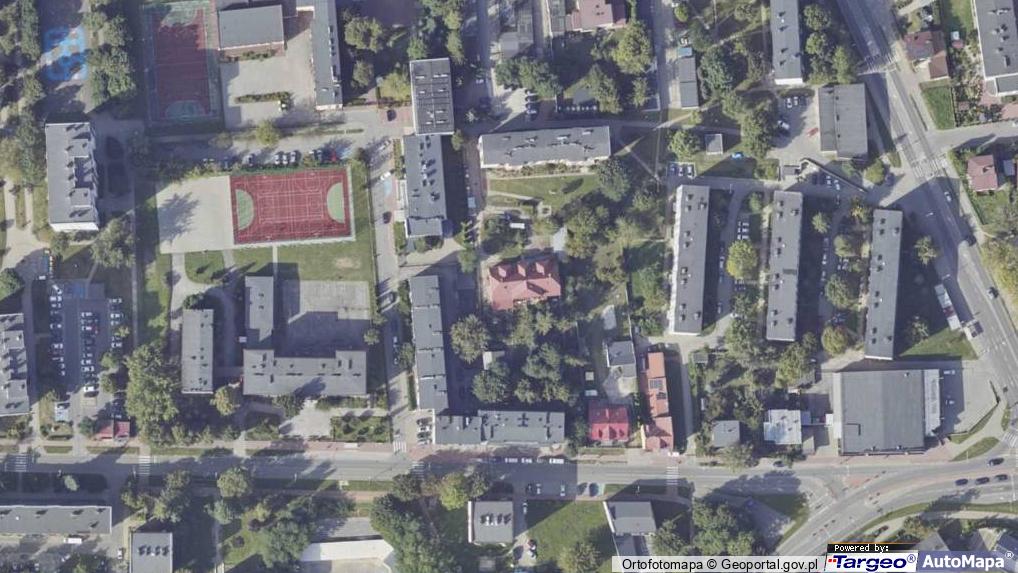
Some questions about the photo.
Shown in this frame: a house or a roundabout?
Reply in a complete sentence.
Visible in the photo is a house.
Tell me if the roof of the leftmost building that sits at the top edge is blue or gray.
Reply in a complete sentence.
The color of the roof of the leftmost building that sits at the top edge is gray.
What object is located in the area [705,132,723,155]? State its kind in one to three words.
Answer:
shed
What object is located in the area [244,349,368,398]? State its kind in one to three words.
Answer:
building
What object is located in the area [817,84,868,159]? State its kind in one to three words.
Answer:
building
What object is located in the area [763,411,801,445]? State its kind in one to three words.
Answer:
house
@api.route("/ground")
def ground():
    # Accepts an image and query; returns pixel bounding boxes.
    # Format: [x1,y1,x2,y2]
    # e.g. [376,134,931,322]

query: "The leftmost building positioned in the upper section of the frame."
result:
[45,122,107,236]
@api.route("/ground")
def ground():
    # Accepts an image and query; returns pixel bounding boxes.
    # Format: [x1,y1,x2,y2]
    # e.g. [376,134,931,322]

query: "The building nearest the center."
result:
[489,259,561,310]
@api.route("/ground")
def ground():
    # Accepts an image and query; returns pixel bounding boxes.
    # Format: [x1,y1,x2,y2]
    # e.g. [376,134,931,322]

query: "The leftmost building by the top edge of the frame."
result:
[218,4,285,52]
